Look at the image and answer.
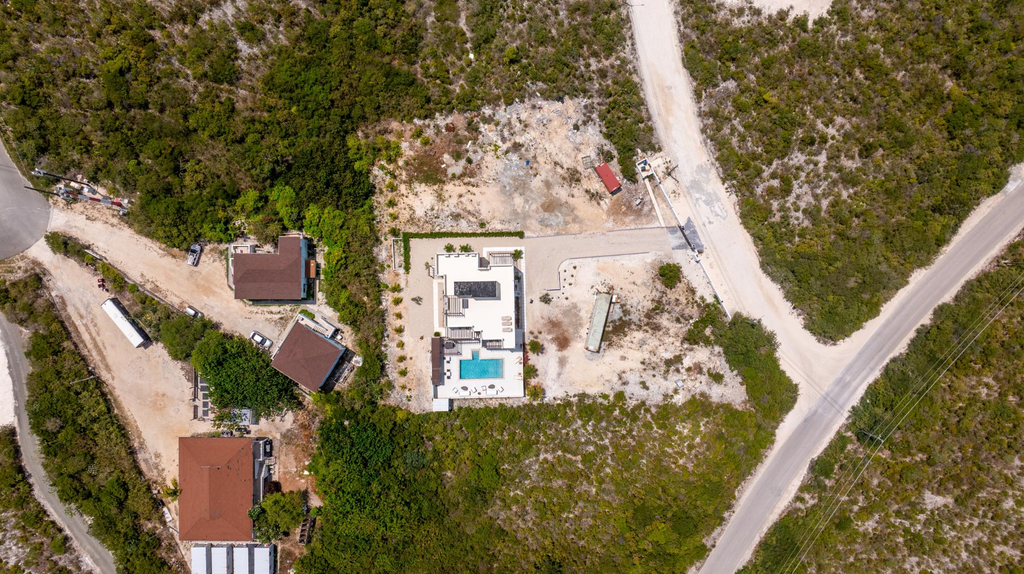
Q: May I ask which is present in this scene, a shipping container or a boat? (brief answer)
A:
shipping container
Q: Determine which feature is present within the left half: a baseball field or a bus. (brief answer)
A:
bus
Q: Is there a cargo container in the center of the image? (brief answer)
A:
Yes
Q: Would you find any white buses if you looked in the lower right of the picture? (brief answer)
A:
No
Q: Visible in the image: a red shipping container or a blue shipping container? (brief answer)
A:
red shipping container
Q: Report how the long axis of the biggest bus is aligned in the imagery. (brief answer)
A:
diagonally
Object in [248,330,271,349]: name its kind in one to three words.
car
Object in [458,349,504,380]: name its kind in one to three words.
swimming pool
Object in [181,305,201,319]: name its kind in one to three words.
car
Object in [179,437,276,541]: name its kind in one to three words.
house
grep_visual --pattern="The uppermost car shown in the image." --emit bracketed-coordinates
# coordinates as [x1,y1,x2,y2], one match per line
[185,244,199,266]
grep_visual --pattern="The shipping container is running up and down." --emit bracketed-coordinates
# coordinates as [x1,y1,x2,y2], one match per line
[583,292,612,352]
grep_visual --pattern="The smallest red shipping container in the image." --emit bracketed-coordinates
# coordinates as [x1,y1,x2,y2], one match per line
[593,162,621,195]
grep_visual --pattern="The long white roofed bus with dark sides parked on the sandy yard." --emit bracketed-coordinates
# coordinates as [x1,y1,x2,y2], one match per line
[95,296,144,347]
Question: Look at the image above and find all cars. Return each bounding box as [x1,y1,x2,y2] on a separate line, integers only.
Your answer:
[248,330,271,349]
[181,305,201,319]
[185,244,199,266]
